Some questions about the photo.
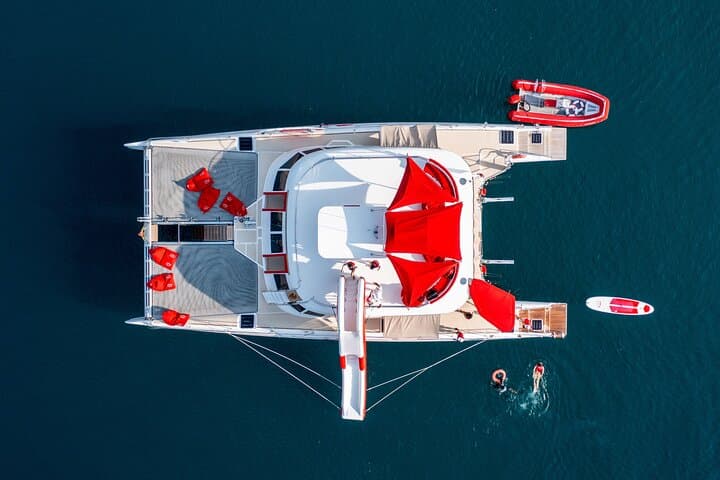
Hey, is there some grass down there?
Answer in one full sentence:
No, there's no grass in this view.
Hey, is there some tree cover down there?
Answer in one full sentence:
No, there's no tree cover in this view.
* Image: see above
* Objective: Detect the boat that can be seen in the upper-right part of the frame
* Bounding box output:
[507,79,610,127]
